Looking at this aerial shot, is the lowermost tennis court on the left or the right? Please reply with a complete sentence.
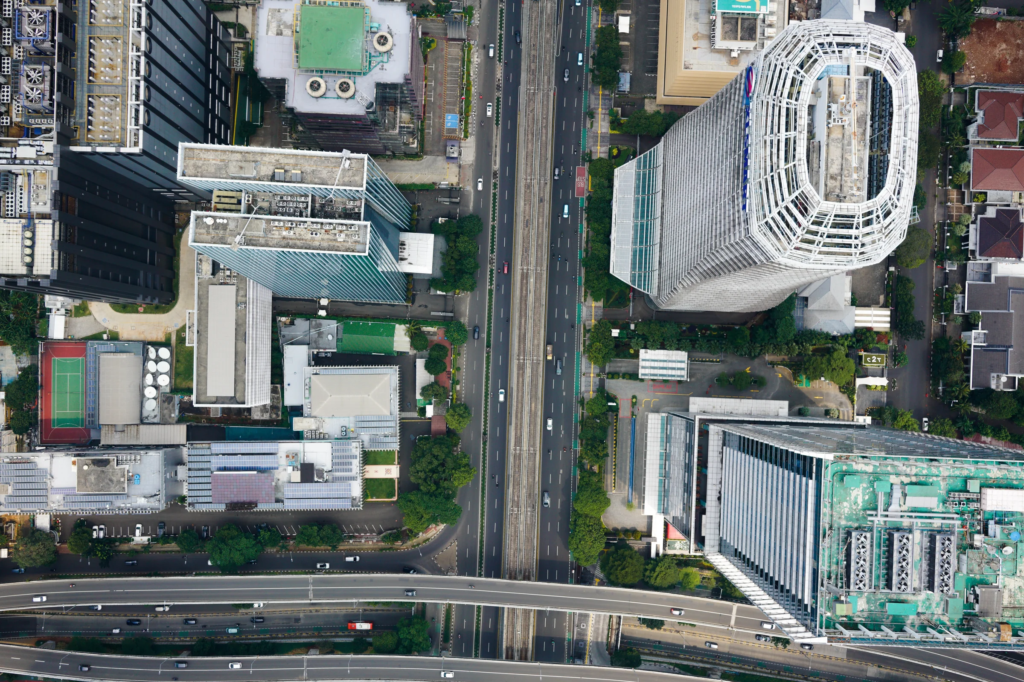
It is on the left.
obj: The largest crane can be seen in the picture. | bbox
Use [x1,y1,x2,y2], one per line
[824,49,863,195]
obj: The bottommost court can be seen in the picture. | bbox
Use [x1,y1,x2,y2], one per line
[32,342,98,444]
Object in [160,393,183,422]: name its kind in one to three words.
shed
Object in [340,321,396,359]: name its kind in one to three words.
shed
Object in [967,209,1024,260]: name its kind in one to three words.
house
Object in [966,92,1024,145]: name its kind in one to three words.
house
